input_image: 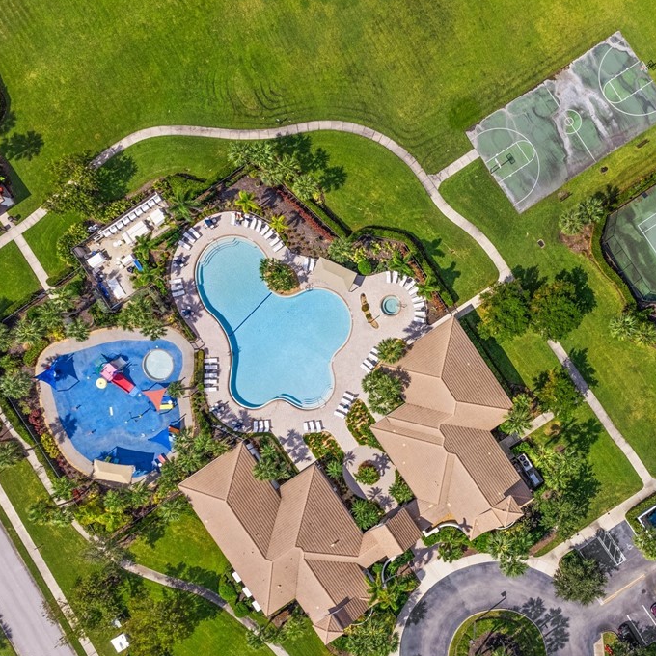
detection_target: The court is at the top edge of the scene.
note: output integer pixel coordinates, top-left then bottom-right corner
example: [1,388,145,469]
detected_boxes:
[467,31,656,213]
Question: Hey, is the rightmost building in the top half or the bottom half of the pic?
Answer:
bottom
